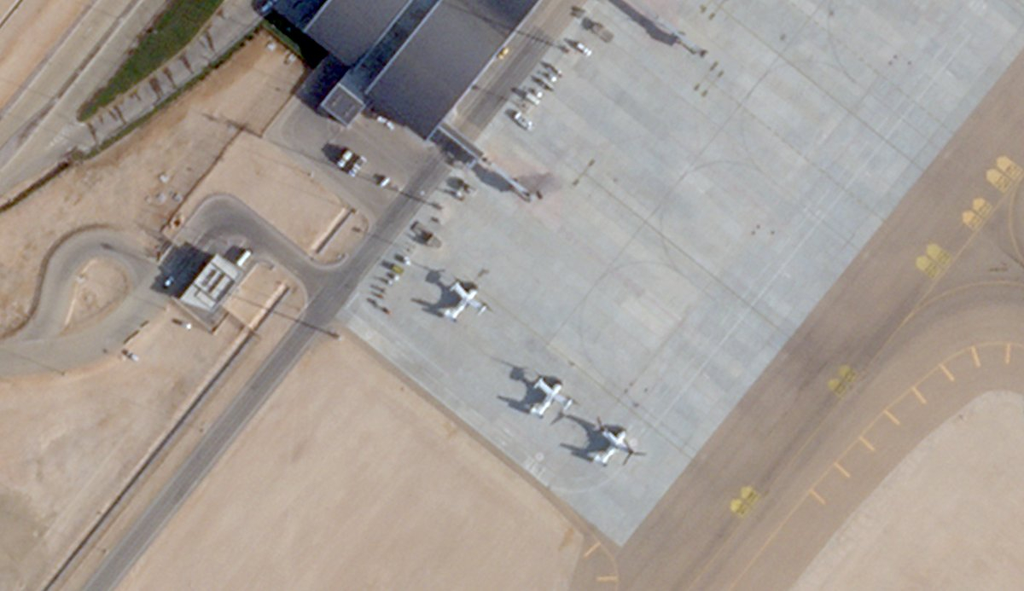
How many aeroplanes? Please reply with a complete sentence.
The picture shows 3 aeroplanes.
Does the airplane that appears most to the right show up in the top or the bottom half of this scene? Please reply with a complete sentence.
Seen from above, the airplane that appears most to the right lies in the bottom half of the view.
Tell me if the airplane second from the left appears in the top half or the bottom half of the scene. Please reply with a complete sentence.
The airplane second from the left is in the bottom half of the image.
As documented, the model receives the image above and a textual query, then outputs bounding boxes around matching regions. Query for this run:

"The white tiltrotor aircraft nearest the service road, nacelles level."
[444,274,494,324]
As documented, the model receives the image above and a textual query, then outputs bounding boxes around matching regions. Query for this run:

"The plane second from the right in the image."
[528,373,578,423]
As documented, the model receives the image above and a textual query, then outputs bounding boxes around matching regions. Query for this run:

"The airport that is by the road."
[335,0,1024,591]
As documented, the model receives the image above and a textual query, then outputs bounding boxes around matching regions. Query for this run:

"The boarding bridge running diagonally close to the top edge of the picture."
[632,0,710,54]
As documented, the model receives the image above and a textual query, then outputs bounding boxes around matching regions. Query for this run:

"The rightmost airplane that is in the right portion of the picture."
[588,417,641,468]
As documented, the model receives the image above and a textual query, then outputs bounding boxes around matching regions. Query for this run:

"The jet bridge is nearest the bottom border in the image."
[477,153,545,204]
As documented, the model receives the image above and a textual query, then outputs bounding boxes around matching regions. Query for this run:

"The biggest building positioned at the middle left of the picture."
[181,253,243,311]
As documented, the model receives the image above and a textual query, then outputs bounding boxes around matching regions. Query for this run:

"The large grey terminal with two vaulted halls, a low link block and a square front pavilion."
[304,0,540,141]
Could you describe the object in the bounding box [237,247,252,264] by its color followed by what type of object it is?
white vehicle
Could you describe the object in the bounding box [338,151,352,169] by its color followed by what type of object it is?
white vehicle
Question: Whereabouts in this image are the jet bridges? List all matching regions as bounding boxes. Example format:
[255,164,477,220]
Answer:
[632,0,710,54]
[477,153,545,204]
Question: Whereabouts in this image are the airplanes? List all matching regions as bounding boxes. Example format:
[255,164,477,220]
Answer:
[588,417,641,468]
[528,373,578,423]
[444,274,494,324]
